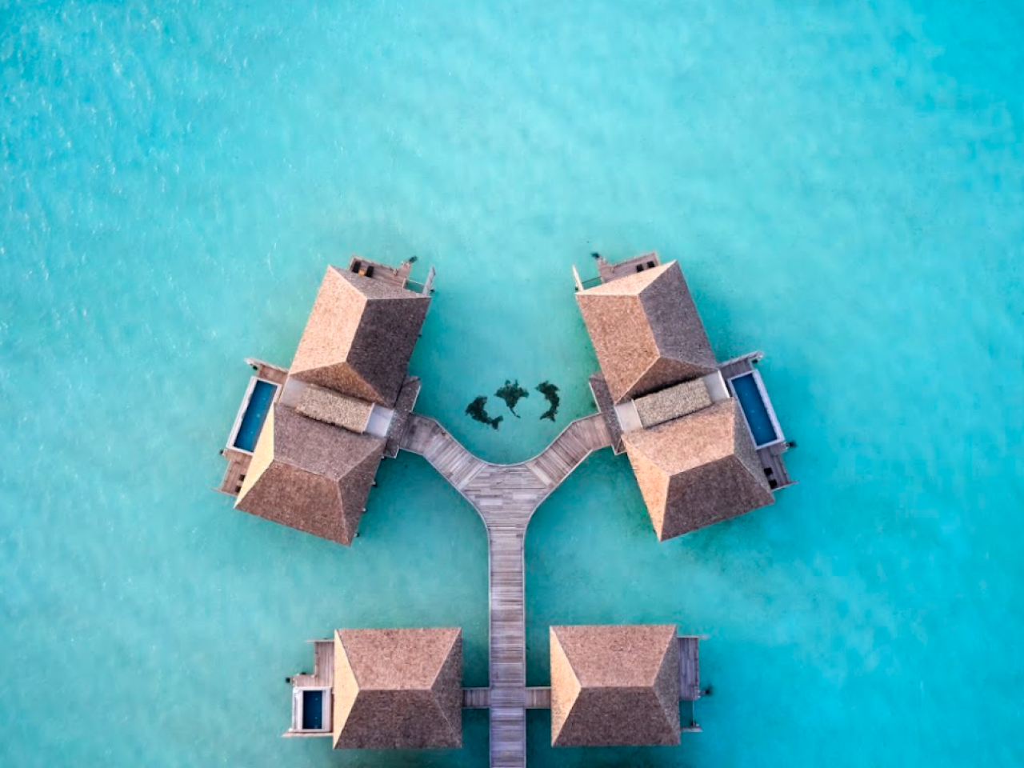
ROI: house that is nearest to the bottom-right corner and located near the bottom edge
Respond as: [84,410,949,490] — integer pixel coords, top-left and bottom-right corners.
[549,625,709,747]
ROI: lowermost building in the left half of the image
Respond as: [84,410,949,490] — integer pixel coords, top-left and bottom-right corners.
[281,626,463,751]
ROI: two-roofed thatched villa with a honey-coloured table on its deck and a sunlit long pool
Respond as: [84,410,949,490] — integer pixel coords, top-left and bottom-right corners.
[212,255,435,546]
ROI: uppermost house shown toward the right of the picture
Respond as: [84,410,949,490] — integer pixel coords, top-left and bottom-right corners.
[571,252,796,542]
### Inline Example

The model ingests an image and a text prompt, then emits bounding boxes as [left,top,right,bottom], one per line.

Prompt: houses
[549,625,709,747]
[571,252,796,542]
[281,626,463,751]
[212,255,435,546]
